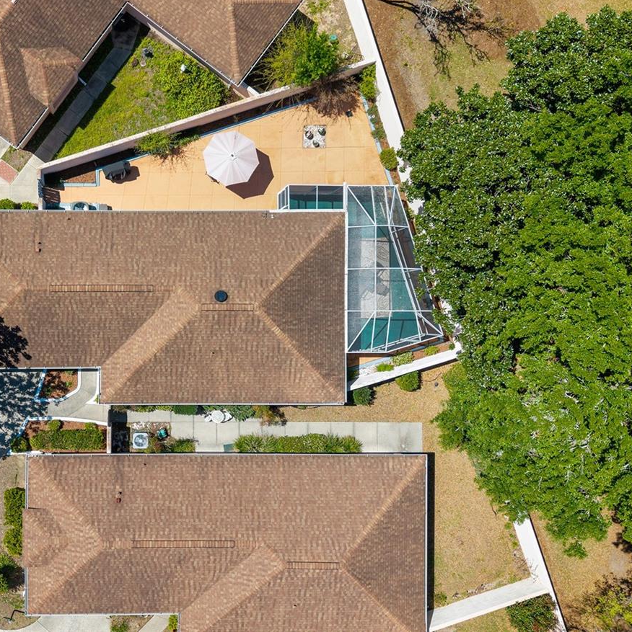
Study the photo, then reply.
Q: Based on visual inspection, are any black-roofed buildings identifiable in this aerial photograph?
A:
No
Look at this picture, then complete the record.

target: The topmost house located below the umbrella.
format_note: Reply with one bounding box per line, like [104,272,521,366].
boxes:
[0,207,349,407]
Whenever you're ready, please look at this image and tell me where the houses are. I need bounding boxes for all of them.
[3,451,431,632]
[0,207,349,407]
[0,0,304,148]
